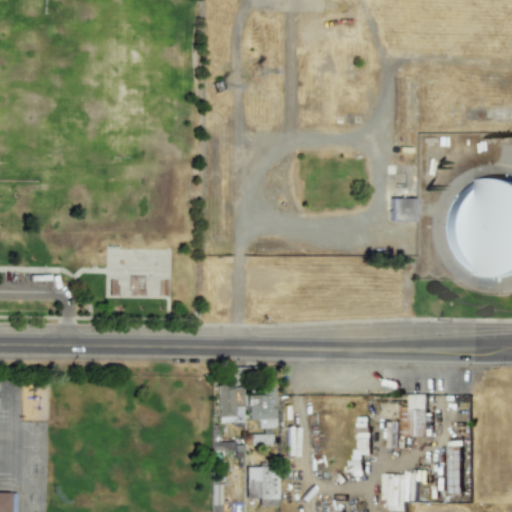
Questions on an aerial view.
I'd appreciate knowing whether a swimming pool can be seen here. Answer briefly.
No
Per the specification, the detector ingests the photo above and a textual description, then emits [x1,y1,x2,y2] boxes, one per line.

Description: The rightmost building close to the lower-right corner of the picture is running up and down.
[443,447,462,497]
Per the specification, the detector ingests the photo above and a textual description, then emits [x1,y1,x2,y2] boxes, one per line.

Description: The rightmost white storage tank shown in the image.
[446,177,512,279]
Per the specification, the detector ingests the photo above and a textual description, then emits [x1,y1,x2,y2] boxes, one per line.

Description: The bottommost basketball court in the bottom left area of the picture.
[22,422,47,512]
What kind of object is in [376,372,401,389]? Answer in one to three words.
vehicle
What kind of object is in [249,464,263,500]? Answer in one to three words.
house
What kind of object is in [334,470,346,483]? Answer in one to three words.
vehicle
